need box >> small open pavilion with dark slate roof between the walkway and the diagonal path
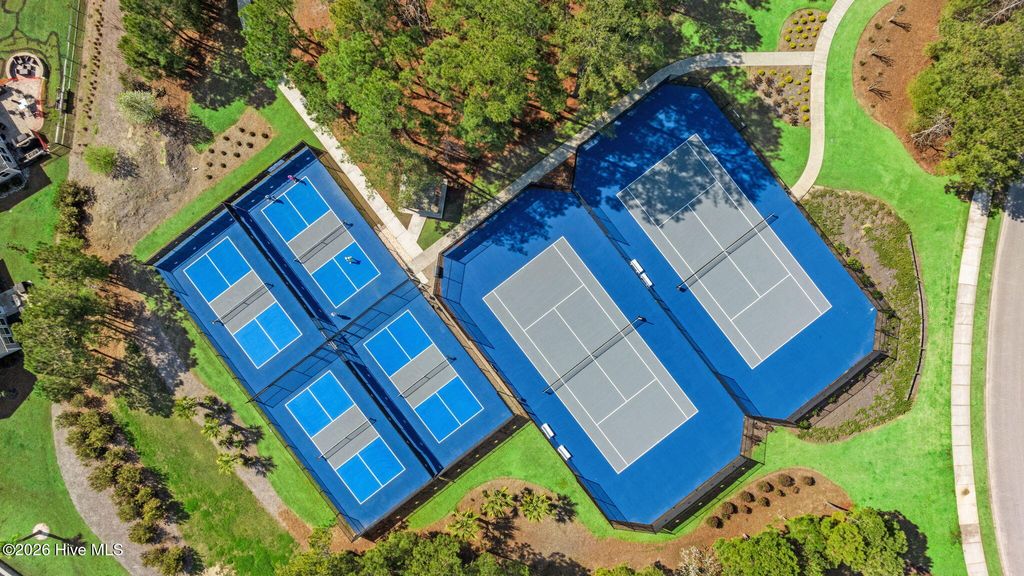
[403,173,447,218]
